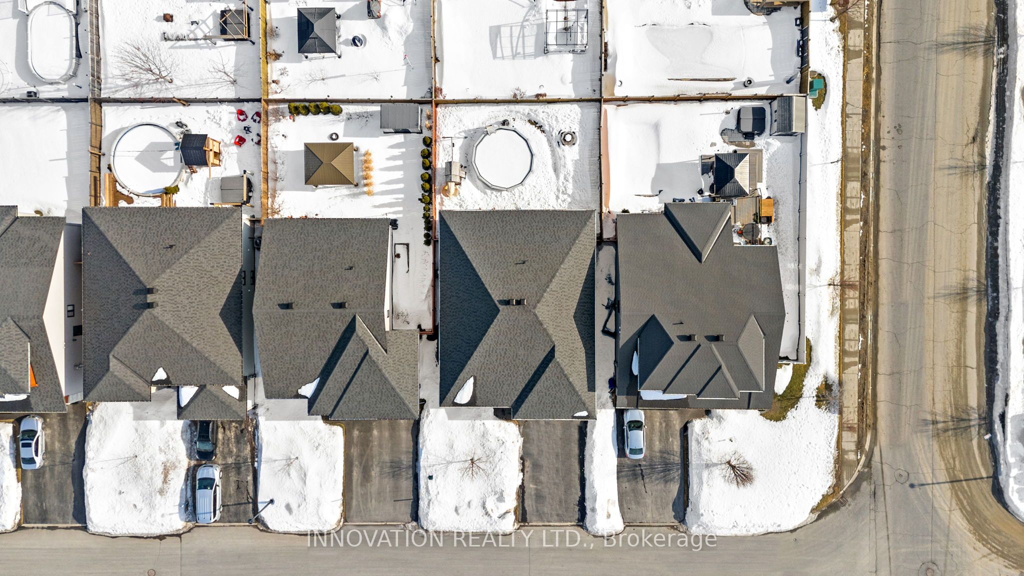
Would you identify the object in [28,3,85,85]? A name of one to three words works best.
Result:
swimming pool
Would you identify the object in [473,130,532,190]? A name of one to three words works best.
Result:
swimming pool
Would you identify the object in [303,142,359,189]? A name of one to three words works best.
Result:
gazebo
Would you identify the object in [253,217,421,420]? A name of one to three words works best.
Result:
house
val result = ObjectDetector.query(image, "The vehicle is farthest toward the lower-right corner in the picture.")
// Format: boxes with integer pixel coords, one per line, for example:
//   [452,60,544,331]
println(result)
[622,411,649,460]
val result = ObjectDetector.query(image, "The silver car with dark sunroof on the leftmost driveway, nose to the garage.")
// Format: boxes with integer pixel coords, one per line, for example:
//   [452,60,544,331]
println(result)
[16,414,50,470]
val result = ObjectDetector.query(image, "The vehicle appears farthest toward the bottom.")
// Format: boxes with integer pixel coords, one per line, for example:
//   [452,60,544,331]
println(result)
[194,463,225,523]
